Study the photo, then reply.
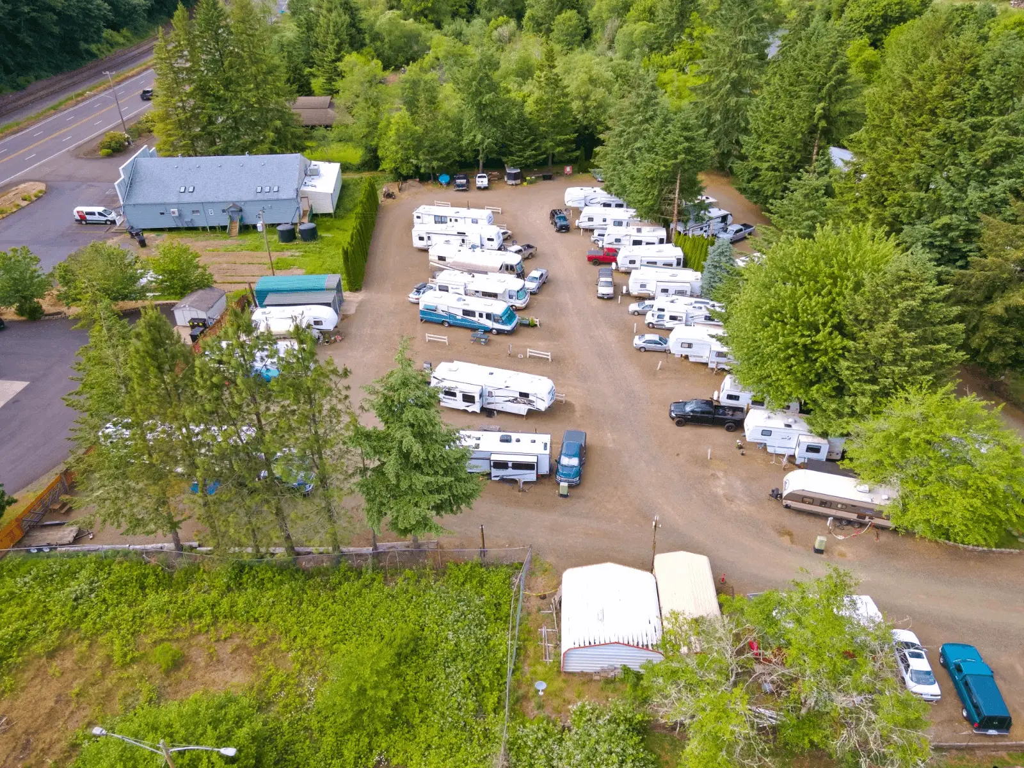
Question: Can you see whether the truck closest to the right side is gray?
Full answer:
No, the color of the truck closest to the right side is blue.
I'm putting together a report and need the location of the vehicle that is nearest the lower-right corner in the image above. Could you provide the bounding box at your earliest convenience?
[940,645,1018,737]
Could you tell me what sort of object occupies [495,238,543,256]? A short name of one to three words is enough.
vehicle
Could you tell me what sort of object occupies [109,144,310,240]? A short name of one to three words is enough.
building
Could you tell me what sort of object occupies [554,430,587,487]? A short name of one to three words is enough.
truck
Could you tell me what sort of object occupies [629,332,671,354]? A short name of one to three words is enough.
car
